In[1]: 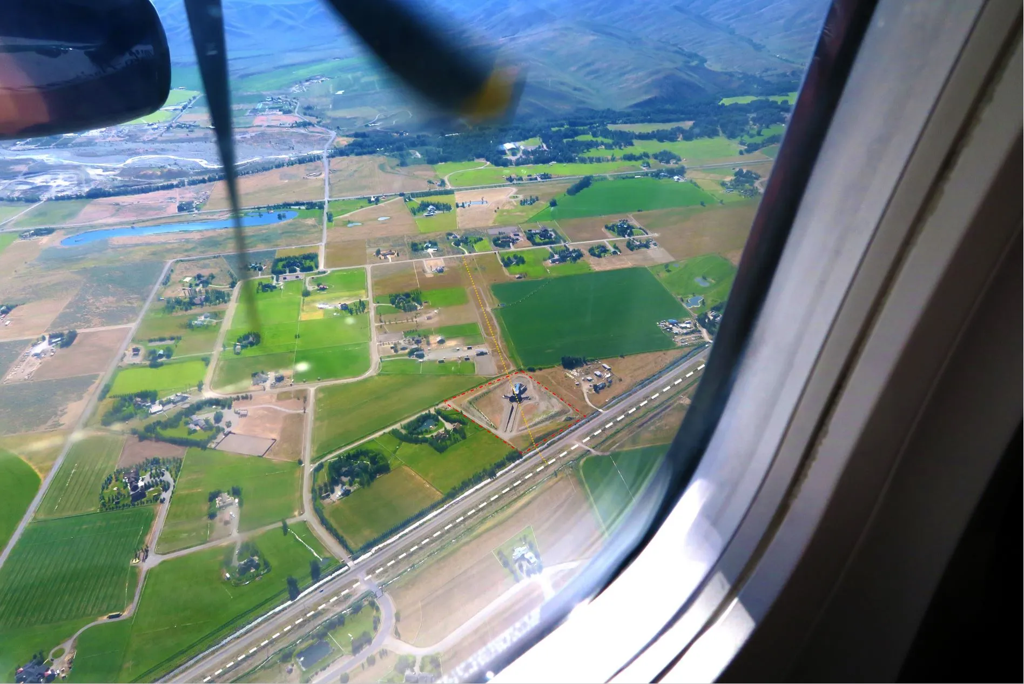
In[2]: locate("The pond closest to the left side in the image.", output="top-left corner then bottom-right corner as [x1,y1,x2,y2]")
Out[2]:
[61,210,298,246]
